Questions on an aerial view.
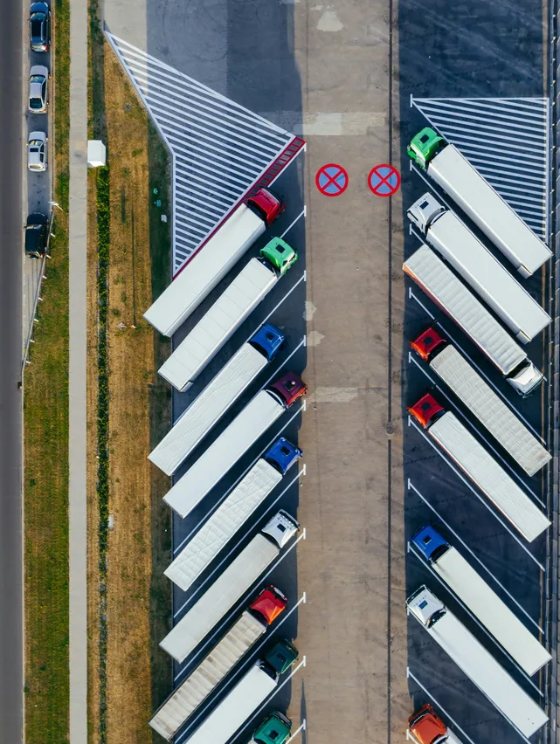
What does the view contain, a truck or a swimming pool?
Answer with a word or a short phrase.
truck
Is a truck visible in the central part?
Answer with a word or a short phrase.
Yes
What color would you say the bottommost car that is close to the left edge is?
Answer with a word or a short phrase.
black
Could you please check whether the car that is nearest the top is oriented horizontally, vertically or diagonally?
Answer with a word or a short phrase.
vertically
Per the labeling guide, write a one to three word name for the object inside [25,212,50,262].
car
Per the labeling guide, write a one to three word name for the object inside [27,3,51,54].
car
